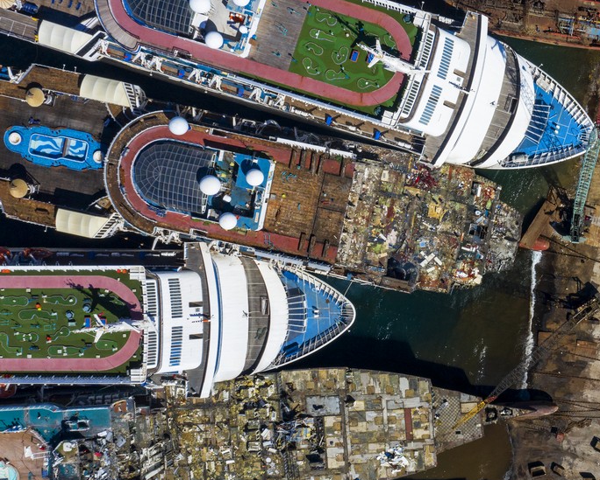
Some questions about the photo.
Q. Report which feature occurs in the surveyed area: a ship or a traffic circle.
ship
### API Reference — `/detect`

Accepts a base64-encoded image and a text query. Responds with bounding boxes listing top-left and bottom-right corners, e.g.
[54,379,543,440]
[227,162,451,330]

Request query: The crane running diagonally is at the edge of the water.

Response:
[450,285,600,431]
